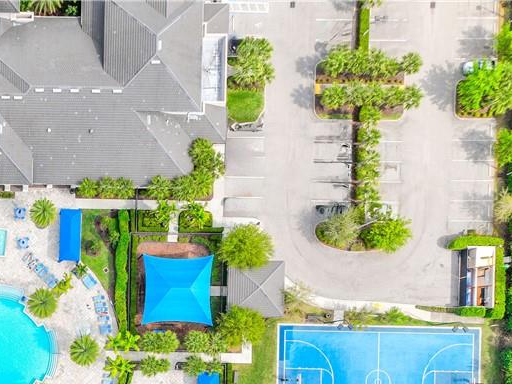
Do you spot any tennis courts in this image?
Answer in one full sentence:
No, no tennis court is visible in the scene.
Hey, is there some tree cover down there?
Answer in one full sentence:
Yes, the picture does contain tree cover.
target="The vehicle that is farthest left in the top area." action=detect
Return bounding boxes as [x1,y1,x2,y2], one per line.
[233,117,264,133]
